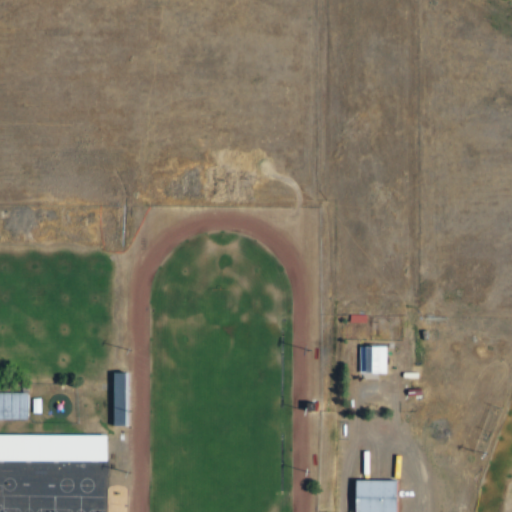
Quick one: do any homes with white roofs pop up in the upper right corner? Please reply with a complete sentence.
No, looking in the upper right corner, there is no home with a white roof.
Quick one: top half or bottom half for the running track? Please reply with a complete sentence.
It is in the bottom half that the running track appears.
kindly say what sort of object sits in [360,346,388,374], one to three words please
house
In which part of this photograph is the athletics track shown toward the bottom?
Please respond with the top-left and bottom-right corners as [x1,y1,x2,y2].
[130,210,314,512]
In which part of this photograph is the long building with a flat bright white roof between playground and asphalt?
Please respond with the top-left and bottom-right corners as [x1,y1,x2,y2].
[0,432,108,463]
